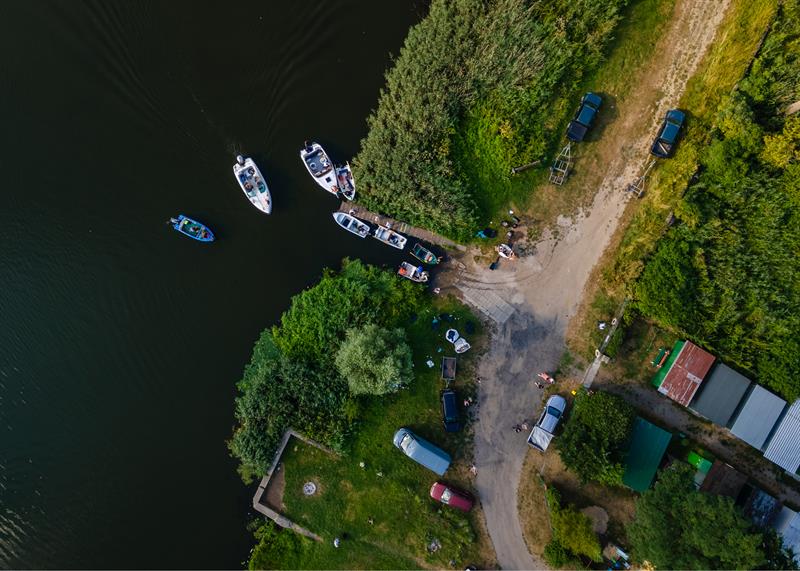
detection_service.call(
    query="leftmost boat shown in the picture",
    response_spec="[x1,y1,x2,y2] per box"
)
[168,213,216,240]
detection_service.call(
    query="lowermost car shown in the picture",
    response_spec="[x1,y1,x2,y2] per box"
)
[428,481,477,514]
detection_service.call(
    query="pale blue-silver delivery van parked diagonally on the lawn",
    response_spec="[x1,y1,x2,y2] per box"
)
[393,424,452,476]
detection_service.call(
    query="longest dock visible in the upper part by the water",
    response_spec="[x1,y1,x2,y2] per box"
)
[338,201,466,252]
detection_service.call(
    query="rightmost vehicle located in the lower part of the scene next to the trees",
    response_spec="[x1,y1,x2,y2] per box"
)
[525,390,566,453]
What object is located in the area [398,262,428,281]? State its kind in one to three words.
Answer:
boat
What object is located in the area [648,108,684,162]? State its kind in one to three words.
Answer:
truck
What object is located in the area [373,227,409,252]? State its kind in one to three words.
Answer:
boat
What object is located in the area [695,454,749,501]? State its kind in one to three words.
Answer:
shed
